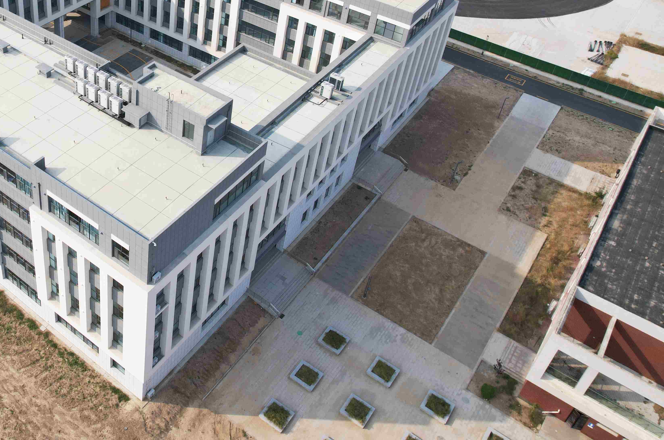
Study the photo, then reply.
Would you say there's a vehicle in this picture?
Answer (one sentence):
No, the frame has no vehicle in it.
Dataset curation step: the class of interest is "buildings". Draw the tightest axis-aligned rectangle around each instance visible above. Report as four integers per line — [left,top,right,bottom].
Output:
[522,102,664,440]
[0,0,460,401]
